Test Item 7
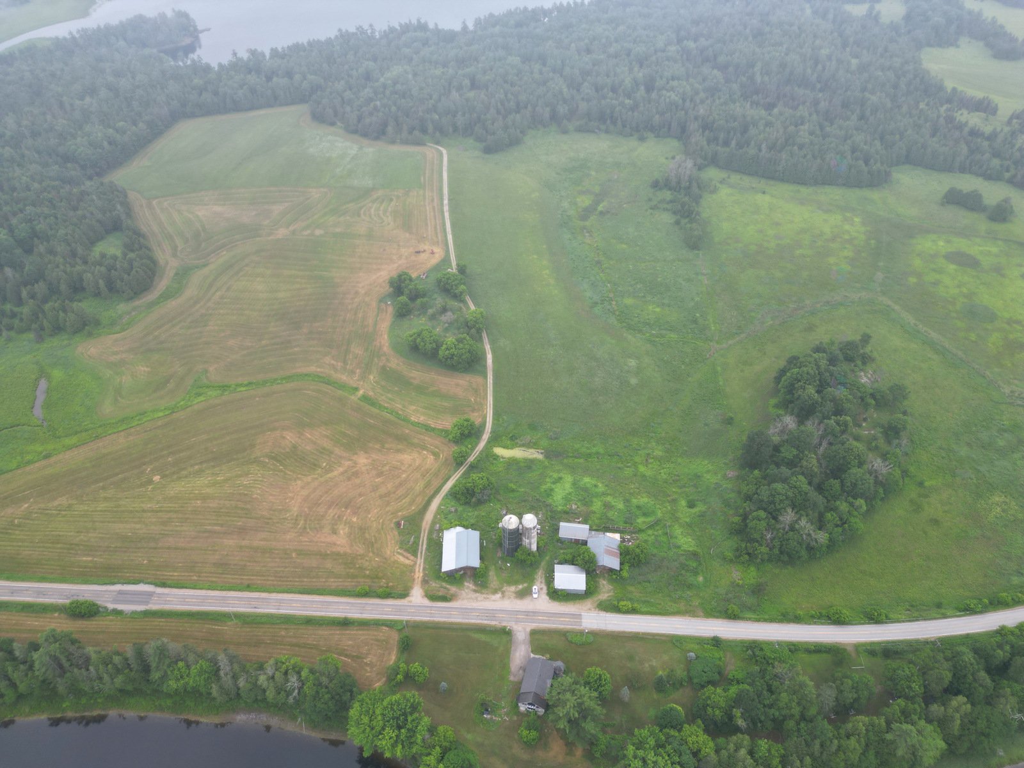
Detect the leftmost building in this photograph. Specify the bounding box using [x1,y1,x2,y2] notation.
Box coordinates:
[442,526,479,575]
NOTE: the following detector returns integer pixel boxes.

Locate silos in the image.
[500,515,522,555]
[522,515,540,551]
